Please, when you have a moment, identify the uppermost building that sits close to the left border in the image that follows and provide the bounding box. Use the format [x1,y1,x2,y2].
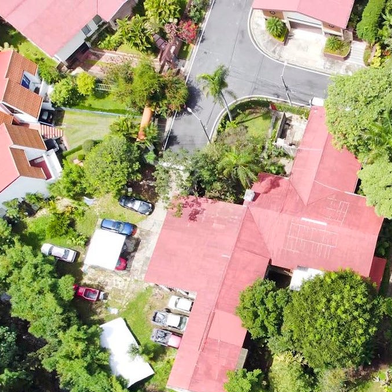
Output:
[0,0,150,70]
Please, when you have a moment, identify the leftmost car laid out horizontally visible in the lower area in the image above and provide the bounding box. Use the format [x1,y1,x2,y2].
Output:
[42,244,78,262]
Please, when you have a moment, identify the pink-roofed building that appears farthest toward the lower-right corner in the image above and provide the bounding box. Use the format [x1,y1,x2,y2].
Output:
[144,106,387,392]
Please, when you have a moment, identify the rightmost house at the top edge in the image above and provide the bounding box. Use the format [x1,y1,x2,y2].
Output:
[252,0,360,47]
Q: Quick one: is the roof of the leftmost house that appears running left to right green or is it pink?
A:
pink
